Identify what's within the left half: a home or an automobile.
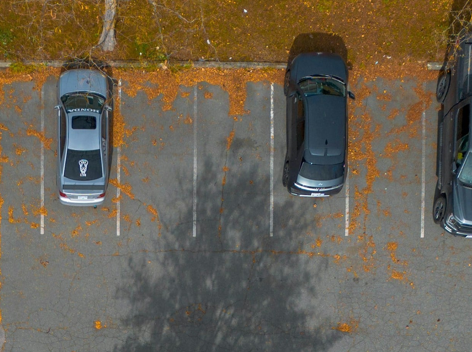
automobile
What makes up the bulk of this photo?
paved ground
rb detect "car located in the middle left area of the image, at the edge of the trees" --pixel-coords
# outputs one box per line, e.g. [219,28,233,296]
[52,69,115,210]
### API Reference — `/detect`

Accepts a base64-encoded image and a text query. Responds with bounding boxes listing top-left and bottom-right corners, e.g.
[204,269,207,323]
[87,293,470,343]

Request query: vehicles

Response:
[438,32,472,236]
[52,69,115,210]
[282,54,355,195]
